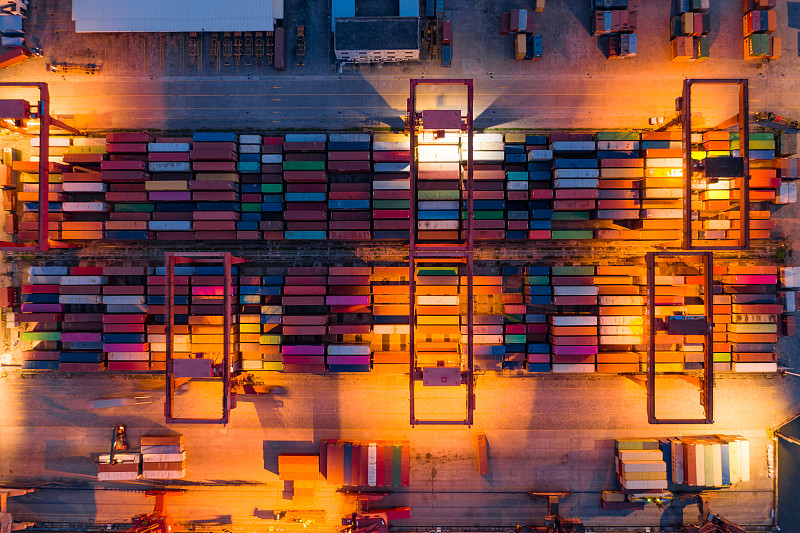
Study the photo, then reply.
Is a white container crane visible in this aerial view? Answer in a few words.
No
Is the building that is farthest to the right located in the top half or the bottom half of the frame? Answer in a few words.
top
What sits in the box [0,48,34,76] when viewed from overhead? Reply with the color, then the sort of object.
red shipping container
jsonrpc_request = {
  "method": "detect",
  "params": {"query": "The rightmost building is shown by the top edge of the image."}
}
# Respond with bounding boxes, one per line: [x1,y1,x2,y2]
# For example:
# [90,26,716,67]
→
[333,0,419,60]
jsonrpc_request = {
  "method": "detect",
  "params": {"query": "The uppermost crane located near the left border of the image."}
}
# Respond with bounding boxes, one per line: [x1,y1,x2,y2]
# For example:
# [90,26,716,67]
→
[0,82,98,251]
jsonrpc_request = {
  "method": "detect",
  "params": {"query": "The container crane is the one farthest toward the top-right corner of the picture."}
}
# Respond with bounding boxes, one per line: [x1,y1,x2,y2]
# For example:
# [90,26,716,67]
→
[645,79,751,251]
